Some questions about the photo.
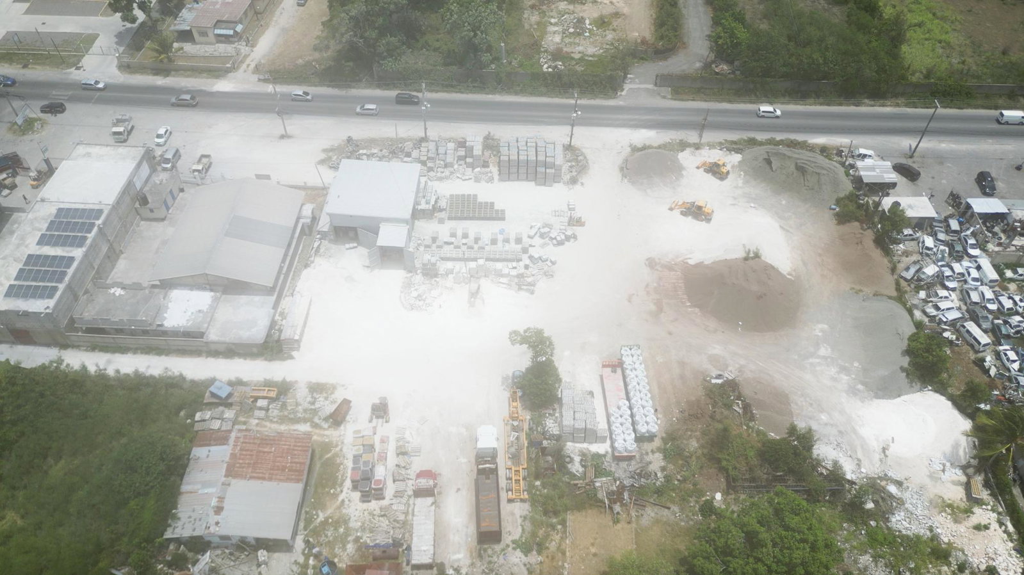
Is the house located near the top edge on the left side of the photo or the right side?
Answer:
left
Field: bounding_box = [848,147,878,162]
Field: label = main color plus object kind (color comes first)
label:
white car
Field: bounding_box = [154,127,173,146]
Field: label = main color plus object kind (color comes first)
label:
white car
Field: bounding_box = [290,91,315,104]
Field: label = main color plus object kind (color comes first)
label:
gray vehicle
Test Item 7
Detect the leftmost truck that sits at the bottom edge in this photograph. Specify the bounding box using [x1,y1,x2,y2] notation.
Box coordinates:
[410,469,439,571]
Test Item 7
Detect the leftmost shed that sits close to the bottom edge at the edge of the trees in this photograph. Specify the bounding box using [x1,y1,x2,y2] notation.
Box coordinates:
[162,429,315,547]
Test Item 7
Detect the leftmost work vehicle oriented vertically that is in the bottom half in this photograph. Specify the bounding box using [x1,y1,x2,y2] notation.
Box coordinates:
[368,389,392,434]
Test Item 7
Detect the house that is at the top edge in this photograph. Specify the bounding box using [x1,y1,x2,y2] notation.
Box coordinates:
[170,0,255,41]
